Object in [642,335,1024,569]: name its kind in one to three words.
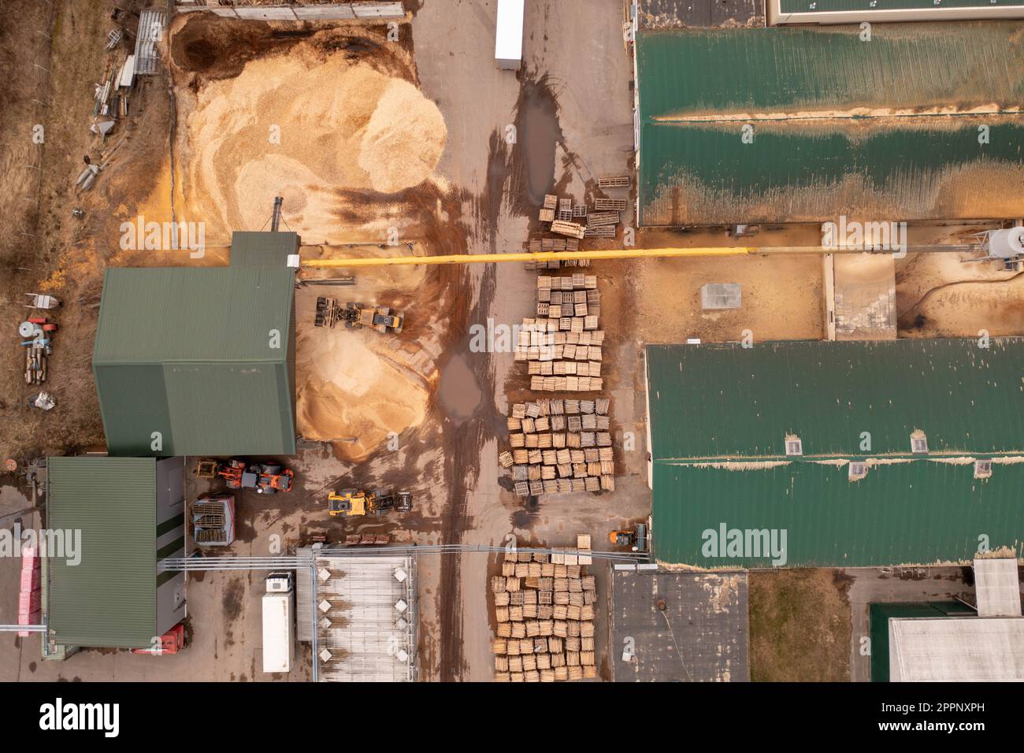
building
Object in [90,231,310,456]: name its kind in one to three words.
shed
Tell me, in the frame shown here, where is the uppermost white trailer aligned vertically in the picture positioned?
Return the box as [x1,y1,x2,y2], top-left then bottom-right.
[495,0,525,72]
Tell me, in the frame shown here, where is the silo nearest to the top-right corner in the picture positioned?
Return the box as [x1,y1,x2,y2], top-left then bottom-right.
[944,228,1024,268]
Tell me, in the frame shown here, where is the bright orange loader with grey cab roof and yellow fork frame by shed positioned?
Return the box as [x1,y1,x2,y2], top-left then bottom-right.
[203,459,291,493]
